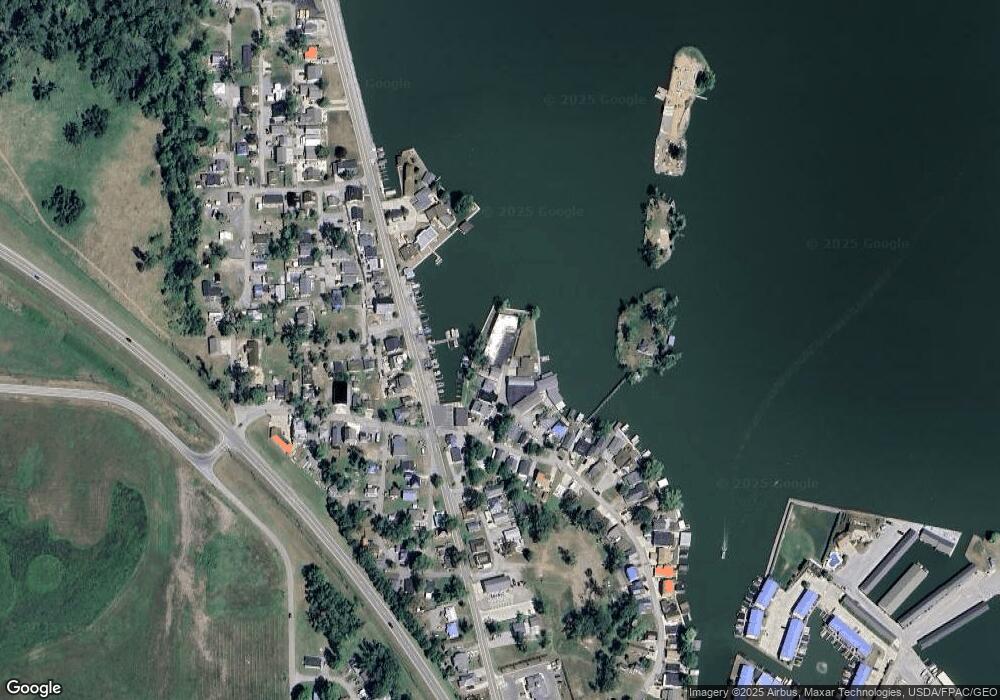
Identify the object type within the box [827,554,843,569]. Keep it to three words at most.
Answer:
swimming pool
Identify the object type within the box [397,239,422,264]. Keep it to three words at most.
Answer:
house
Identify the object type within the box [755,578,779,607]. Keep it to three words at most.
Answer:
shed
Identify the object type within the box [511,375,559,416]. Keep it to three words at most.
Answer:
building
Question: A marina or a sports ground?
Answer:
marina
